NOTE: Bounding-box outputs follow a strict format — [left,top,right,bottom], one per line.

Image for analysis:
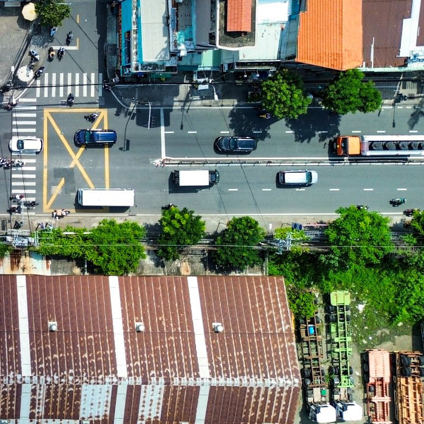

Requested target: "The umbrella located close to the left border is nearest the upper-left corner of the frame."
[21,3,38,21]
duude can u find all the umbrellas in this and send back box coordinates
[21,3,38,21]
[17,66,34,82]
